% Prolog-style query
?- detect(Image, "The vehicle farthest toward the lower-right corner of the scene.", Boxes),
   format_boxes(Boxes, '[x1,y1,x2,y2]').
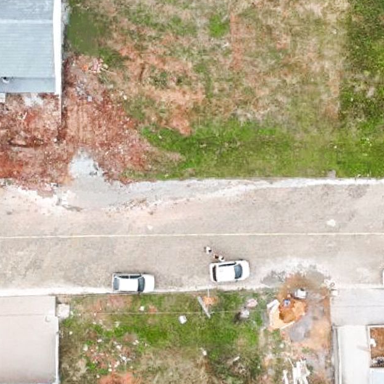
[211,261,250,285]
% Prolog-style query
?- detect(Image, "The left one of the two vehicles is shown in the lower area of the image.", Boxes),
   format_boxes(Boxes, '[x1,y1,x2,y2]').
[113,274,155,297]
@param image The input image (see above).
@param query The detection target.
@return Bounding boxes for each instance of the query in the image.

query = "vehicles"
[211,261,250,285]
[113,274,155,297]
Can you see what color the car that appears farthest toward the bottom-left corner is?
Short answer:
white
